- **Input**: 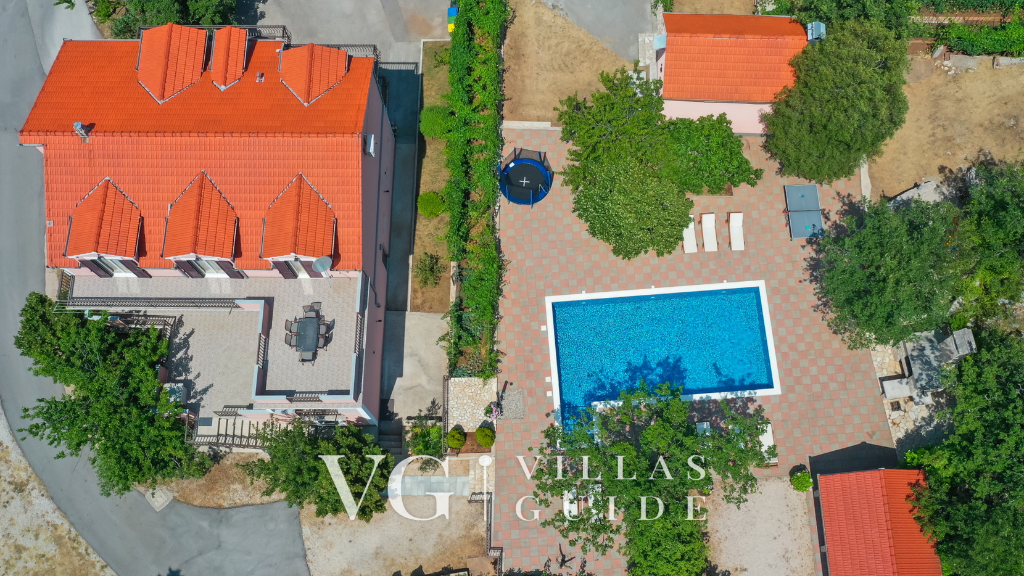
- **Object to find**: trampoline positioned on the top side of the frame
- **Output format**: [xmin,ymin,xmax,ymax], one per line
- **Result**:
[496,145,551,210]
